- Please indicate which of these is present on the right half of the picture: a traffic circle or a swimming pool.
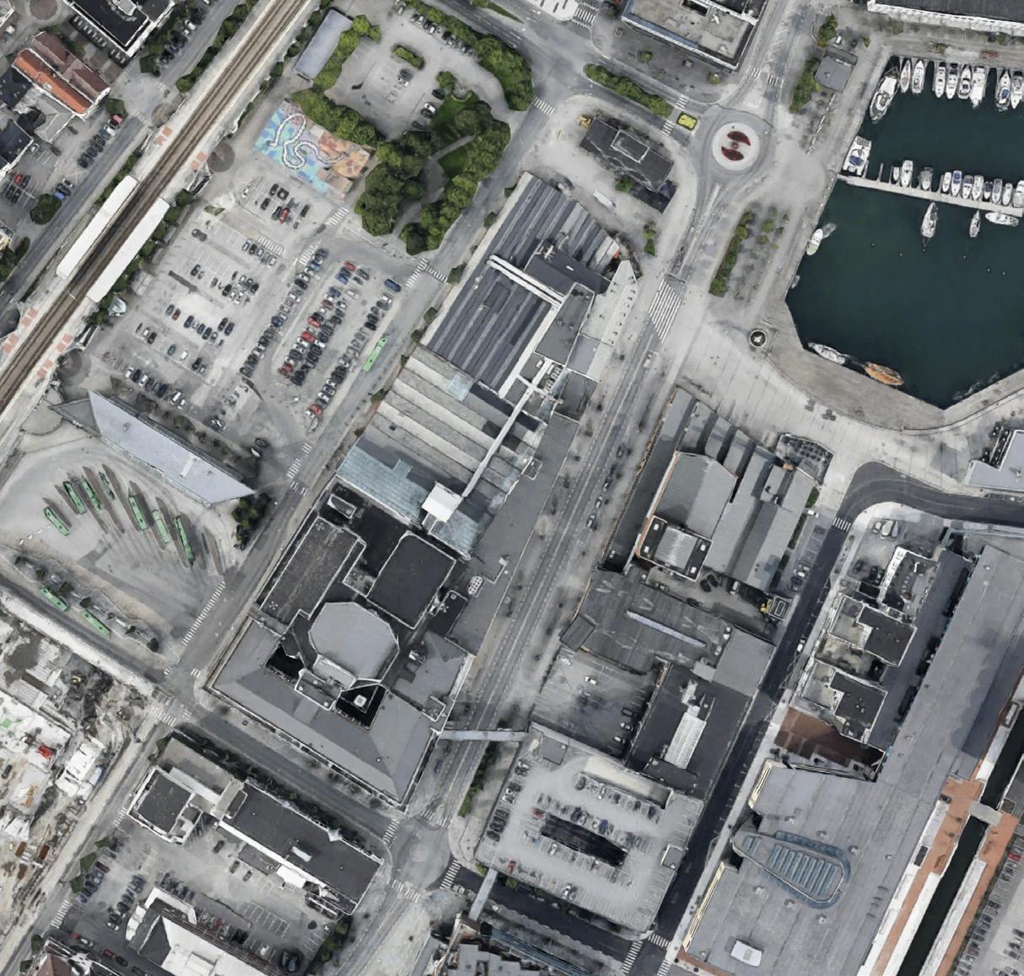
traffic circle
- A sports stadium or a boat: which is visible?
boat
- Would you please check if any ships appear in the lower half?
No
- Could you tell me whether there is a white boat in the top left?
No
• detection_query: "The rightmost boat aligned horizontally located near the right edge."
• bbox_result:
[984,210,1017,226]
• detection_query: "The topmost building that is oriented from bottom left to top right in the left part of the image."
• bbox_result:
[294,8,353,81]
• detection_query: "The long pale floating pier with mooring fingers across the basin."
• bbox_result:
[839,163,1024,217]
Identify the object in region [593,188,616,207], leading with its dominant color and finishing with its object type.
white vehicle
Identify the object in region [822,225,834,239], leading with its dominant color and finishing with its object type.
gray boat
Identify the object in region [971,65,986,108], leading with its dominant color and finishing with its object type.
white boat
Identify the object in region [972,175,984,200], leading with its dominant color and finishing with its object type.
white boat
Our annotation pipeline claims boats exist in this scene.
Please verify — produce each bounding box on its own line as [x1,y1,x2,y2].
[969,211,986,238]
[910,60,924,95]
[1002,183,1012,206]
[921,167,932,190]
[935,62,946,97]
[805,229,822,256]
[843,139,872,178]
[991,179,1002,204]
[972,175,984,200]
[995,70,1011,111]
[920,202,942,239]
[971,65,986,108]
[809,343,847,365]
[942,172,951,192]
[873,68,903,122]
[1010,70,1024,109]
[983,181,992,199]
[893,167,899,181]
[900,160,913,187]
[899,59,913,93]
[790,276,799,289]
[822,225,834,239]
[1012,180,1024,208]
[946,63,959,99]
[962,175,973,199]
[984,210,1017,226]
[957,66,972,100]
[951,170,962,196]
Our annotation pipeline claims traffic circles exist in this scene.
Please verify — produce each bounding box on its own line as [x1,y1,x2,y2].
[696,106,775,186]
